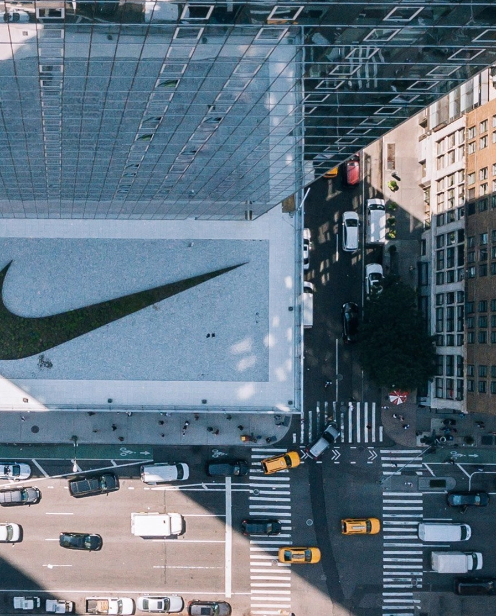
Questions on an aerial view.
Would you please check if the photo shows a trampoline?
No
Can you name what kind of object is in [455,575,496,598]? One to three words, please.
car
